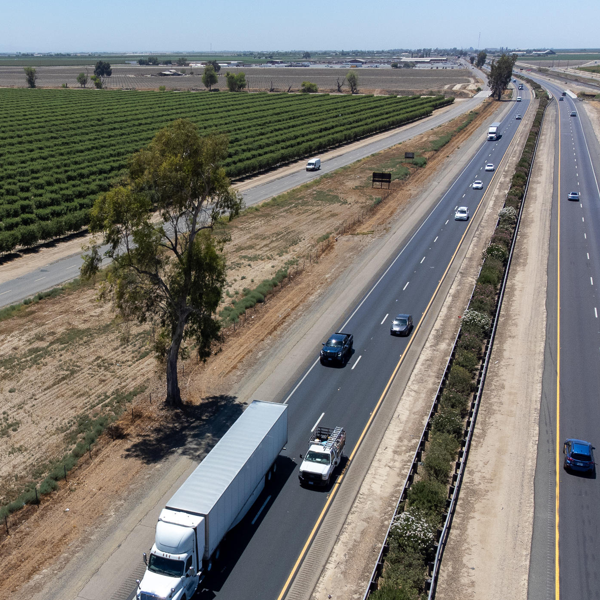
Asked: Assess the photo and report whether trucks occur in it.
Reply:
Yes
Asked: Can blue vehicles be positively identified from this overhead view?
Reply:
Yes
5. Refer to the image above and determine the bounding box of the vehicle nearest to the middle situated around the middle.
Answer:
[320,333,357,365]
